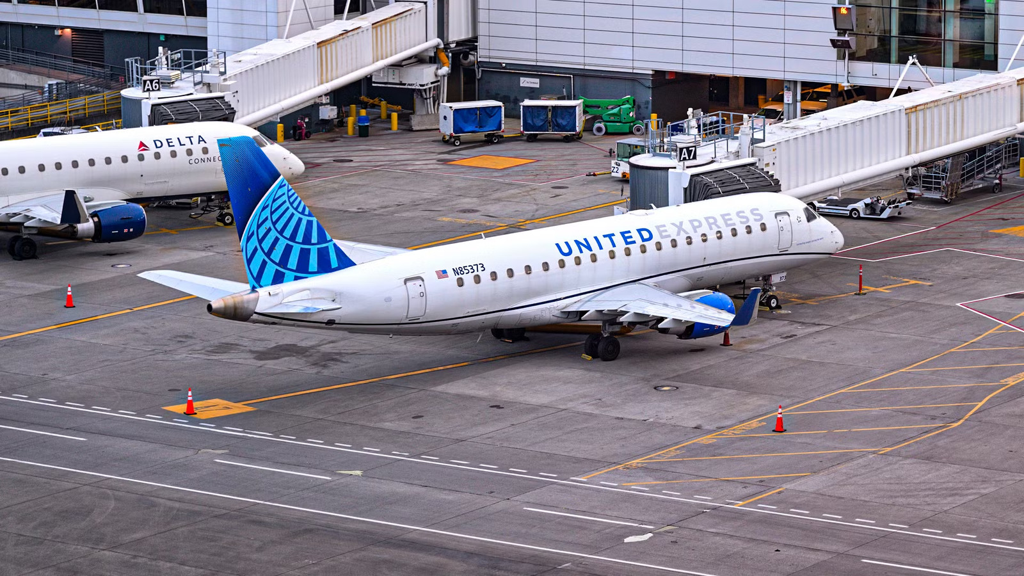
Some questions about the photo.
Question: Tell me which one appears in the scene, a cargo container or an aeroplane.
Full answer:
Looking from above, you can make out an aeroplane.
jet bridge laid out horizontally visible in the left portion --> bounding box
[118,0,471,206]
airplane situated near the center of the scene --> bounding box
[140,137,844,360]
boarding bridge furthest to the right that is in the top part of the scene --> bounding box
[618,35,1024,212]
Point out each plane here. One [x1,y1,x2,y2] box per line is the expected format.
[0,121,303,260]
[140,137,844,360]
